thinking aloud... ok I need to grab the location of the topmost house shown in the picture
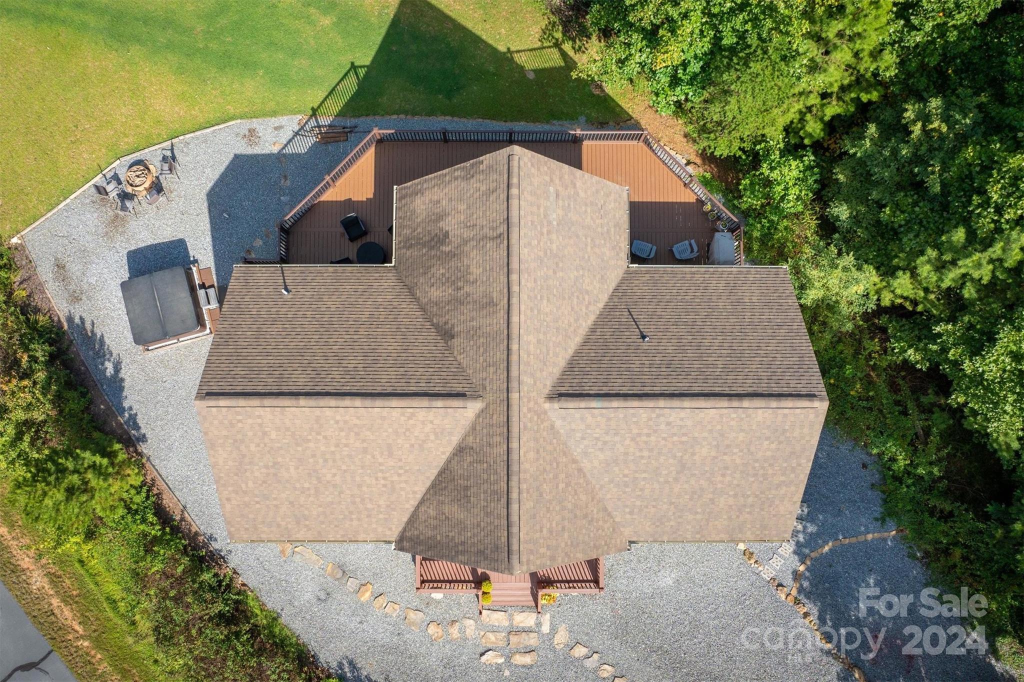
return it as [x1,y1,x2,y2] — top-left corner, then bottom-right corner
[194,145,830,577]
